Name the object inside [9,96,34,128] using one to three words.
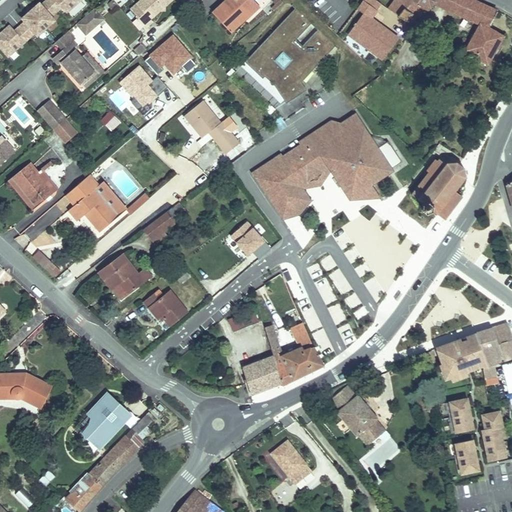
swimming pool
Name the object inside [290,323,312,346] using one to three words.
shed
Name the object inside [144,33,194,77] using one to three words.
house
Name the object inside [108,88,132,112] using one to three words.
swimming pool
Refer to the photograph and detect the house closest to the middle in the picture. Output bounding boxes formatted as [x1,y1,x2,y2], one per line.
[231,220,266,258]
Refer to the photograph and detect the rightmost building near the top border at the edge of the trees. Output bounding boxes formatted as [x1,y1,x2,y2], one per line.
[468,22,506,64]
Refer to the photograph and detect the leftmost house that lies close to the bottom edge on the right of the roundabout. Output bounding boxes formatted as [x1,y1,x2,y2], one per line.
[263,439,312,487]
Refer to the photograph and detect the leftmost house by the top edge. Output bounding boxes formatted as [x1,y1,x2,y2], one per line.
[0,1,56,58]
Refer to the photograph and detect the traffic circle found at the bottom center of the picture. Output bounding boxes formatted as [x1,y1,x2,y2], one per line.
[185,397,246,455]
